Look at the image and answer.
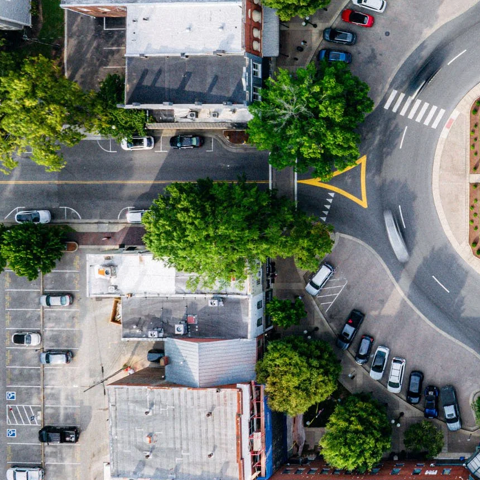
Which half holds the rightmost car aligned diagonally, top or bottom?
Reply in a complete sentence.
You can find the rightmost car aligned diagonally in the top half.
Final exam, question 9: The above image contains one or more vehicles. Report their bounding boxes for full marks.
[406,370,424,405]
[384,216,409,256]
[370,345,391,381]
[441,385,463,430]
[40,293,75,309]
[305,262,335,296]
[323,26,359,47]
[352,0,387,14]
[343,8,375,28]
[39,425,83,444]
[11,332,43,348]
[124,207,161,225]
[7,465,48,480]
[338,307,367,350]
[39,350,74,367]
[15,208,51,224]
[386,357,405,393]
[410,56,444,94]
[170,134,205,151]
[121,135,157,152]
[423,386,440,417]
[355,334,375,365]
